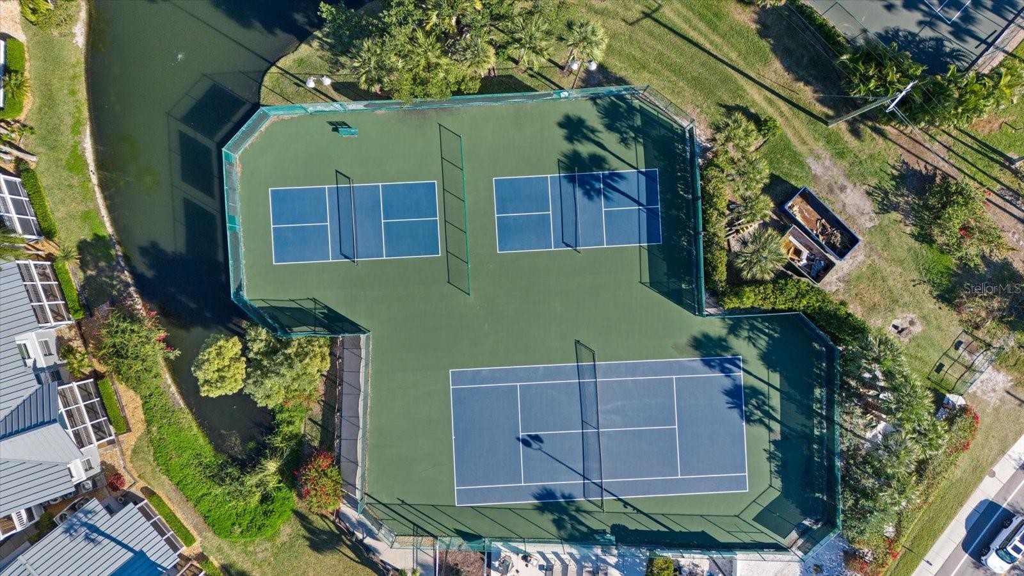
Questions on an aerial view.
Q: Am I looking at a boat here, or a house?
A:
house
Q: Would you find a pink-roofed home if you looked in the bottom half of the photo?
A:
No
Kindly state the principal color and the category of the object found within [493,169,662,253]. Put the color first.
blue sports court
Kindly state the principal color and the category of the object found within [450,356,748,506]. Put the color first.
blue tennis court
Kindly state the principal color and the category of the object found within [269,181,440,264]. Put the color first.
blue sports court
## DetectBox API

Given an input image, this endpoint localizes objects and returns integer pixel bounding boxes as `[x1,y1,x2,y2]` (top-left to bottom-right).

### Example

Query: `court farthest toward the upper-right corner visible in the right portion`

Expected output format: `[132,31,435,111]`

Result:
[804,0,1024,71]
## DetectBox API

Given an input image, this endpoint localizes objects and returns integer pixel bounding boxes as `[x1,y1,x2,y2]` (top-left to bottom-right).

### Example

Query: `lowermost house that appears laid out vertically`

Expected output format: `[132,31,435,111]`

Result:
[0,259,119,544]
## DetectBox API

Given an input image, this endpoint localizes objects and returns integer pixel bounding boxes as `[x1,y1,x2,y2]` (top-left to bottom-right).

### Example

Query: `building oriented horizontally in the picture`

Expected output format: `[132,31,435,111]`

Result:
[0,497,189,576]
